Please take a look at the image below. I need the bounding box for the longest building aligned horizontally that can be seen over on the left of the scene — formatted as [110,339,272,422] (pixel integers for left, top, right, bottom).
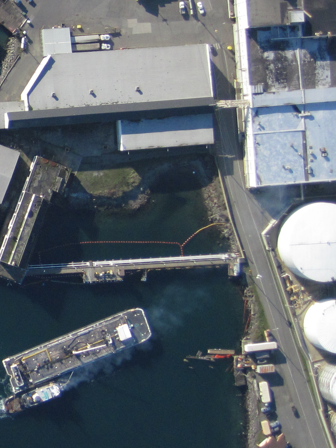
[4,44,214,121]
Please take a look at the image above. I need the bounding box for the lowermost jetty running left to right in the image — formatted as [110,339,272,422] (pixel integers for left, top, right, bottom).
[25,250,229,275]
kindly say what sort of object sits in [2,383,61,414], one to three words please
boat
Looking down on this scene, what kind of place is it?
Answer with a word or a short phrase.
industrial area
